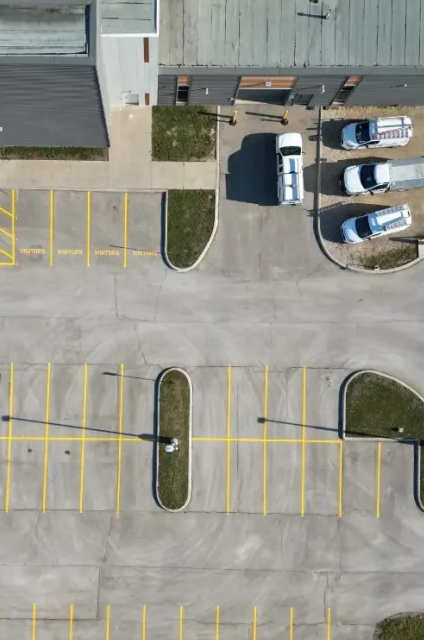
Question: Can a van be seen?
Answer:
Yes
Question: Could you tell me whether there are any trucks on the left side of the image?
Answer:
No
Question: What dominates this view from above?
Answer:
paved ground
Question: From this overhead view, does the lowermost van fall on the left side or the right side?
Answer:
right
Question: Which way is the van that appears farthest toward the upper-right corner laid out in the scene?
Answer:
from side to side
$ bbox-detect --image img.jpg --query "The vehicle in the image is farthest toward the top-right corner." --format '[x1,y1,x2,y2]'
[340,116,412,152]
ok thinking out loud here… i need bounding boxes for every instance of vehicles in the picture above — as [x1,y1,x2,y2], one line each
[275,131,307,206]
[338,161,424,196]
[340,116,412,152]
[339,203,411,245]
